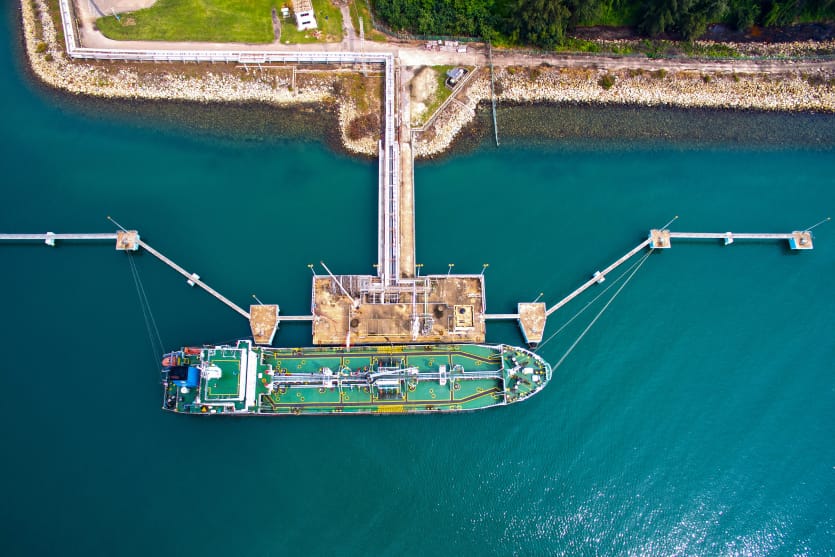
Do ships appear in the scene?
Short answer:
Yes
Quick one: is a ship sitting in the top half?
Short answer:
No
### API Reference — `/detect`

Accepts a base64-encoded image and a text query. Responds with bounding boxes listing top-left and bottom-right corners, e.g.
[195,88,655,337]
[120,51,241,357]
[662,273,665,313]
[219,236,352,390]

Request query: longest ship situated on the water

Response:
[157,341,553,415]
